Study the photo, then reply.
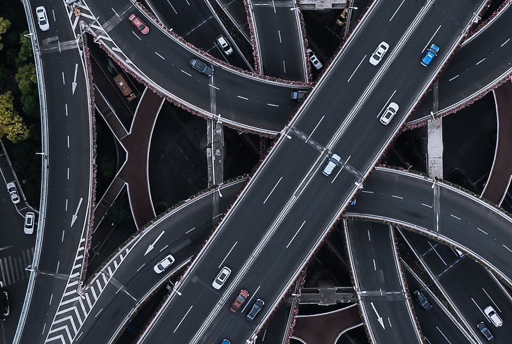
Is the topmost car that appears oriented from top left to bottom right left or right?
left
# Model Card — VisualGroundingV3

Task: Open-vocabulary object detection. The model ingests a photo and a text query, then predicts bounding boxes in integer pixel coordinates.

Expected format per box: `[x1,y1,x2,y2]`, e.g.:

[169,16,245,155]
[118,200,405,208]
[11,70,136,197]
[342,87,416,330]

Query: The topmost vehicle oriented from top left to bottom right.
[128,10,151,35]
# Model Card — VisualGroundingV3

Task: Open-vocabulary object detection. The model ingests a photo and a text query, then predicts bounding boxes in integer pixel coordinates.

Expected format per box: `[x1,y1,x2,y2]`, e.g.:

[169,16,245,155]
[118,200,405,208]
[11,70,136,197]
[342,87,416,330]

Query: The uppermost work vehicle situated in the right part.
[335,10,347,27]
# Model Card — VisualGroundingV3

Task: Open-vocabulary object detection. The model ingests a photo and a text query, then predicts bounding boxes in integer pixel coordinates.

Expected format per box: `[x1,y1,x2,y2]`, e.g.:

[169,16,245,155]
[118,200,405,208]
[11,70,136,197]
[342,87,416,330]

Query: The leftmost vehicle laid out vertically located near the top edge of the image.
[36,3,50,31]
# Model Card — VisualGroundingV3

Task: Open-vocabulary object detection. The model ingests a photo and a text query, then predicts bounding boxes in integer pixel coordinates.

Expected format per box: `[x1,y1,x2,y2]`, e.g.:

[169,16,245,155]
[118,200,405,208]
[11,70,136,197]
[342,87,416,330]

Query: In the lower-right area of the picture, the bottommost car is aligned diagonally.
[476,319,496,344]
